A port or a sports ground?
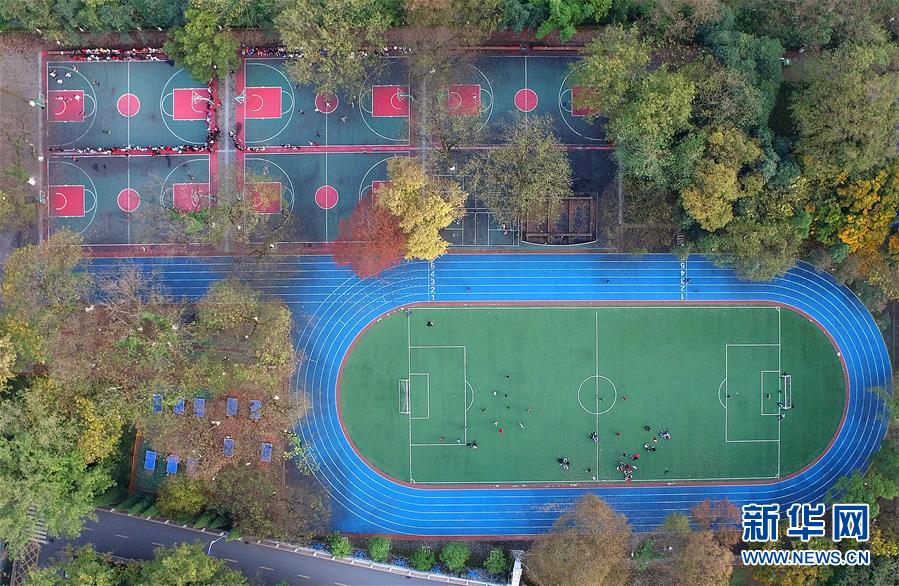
sports ground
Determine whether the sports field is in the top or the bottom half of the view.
bottom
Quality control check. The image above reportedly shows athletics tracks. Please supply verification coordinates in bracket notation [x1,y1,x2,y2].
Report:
[60,252,893,540]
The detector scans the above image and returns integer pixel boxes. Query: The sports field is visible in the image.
[341,306,845,484]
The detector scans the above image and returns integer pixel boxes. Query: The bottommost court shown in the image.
[432,212,520,246]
